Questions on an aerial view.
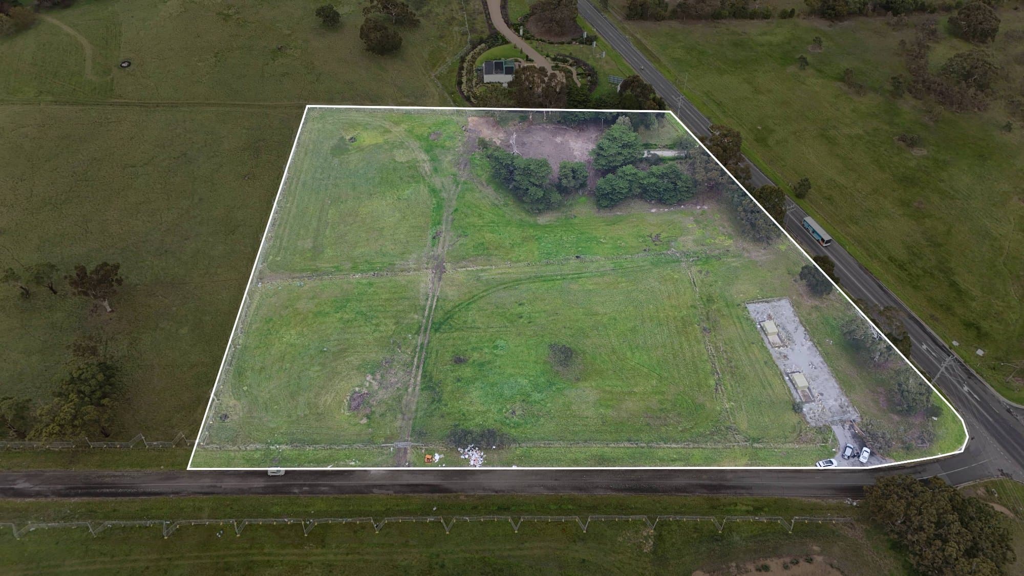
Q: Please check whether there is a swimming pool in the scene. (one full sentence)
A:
No, no swimming pool is visible in the view.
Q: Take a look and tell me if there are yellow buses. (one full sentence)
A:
No, the frame has no yellow bus in it.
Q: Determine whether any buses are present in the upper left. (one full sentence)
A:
No, I can find no bus in the upper left.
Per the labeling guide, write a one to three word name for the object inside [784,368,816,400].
shed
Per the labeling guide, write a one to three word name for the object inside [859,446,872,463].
vehicle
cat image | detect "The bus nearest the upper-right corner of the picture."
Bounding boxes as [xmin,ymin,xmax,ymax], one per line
[801,216,834,247]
